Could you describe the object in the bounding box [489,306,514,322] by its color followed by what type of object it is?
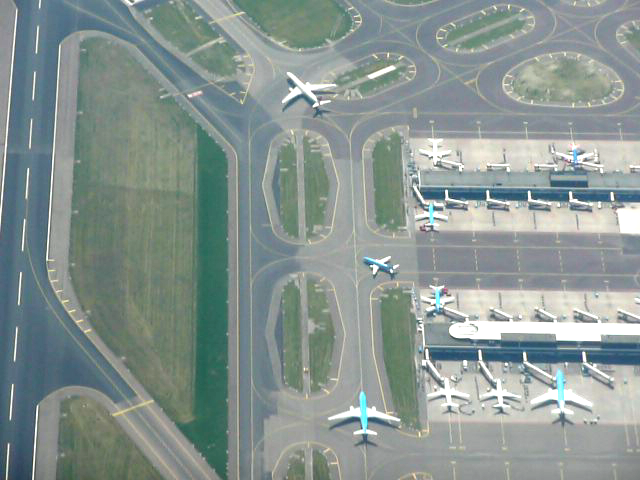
white jet bridge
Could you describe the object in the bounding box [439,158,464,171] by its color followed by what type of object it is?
white jet bridge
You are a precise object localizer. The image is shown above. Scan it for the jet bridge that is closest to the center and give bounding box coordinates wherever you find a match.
[412,178,427,207]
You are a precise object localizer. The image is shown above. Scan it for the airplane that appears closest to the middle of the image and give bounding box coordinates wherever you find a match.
[366,258,399,276]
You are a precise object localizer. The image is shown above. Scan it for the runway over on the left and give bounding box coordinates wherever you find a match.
[0,0,243,480]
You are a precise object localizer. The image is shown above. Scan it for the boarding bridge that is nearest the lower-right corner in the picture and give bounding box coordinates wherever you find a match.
[582,352,614,384]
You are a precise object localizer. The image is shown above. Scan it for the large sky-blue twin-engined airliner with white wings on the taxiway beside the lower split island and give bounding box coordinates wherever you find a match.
[329,391,399,434]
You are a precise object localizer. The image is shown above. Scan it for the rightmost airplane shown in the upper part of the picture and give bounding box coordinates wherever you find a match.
[554,143,595,171]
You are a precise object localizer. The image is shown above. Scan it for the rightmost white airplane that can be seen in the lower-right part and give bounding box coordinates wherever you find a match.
[531,370,592,413]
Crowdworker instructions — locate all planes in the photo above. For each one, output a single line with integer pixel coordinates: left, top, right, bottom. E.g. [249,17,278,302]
[416,204,447,227]
[480,380,521,409]
[421,281,454,313]
[554,143,595,171]
[329,391,399,434]
[531,370,592,413]
[419,139,450,166]
[428,379,468,408]
[278,74,334,108]
[366,258,399,276]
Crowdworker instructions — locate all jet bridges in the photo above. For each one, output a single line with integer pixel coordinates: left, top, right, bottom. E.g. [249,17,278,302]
[522,351,558,383]
[571,308,602,323]
[486,191,511,209]
[534,306,558,322]
[489,306,514,322]
[439,158,464,171]
[444,191,469,209]
[534,163,559,172]
[569,192,593,210]
[412,178,427,207]
[486,163,511,172]
[527,192,552,209]
[582,352,614,384]
[610,193,622,209]
[578,160,604,173]
[425,350,446,383]
[478,351,498,385]
[441,305,470,321]
[629,165,640,174]
[616,308,640,322]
